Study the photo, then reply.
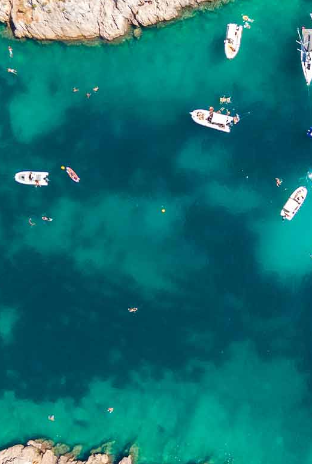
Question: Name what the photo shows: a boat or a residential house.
boat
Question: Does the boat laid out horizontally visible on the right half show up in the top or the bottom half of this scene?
top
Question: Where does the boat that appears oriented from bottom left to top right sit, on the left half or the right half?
right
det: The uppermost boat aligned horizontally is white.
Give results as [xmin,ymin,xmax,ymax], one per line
[185,109,234,131]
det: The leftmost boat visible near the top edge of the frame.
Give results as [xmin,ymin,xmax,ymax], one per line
[224,21,242,61]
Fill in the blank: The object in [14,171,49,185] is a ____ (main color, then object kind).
white boat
